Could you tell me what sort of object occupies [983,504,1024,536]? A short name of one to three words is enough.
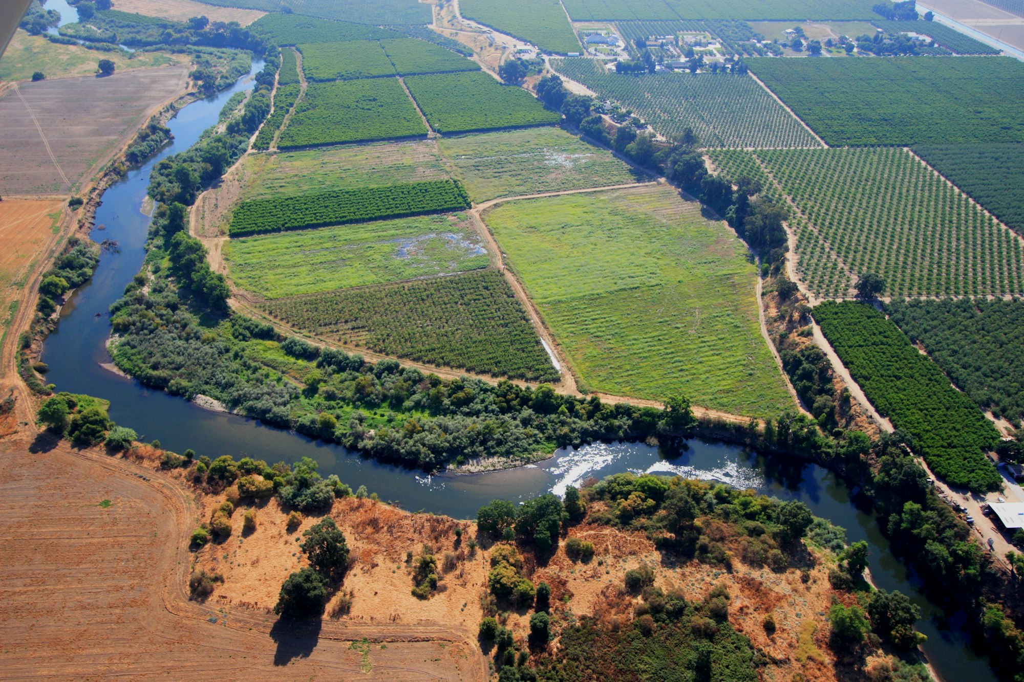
shed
